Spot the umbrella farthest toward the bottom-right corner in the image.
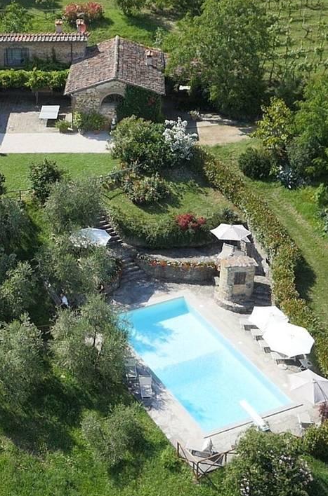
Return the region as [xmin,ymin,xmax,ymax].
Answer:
[293,368,328,411]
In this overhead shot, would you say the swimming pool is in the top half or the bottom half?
bottom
